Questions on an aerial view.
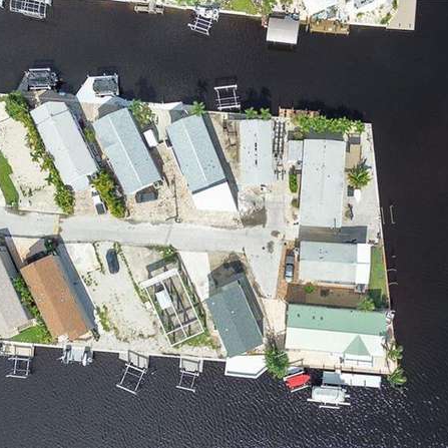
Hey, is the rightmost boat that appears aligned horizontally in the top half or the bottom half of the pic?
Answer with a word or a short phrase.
bottom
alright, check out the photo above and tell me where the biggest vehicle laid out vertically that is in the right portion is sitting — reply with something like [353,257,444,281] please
[283,255,296,284]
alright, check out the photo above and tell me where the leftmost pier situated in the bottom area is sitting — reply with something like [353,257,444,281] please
[4,343,37,357]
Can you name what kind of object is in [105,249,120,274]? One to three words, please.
car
